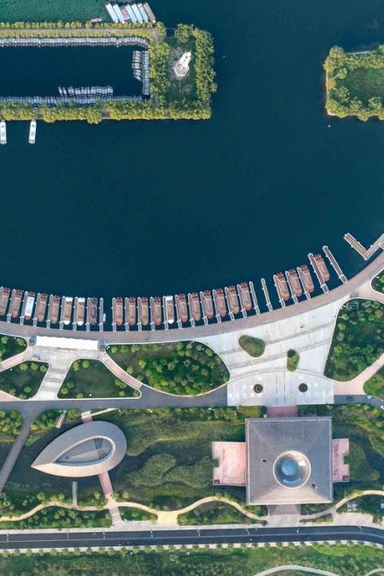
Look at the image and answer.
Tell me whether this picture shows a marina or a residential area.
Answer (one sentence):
What you see here is a marina.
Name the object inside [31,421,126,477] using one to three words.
building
